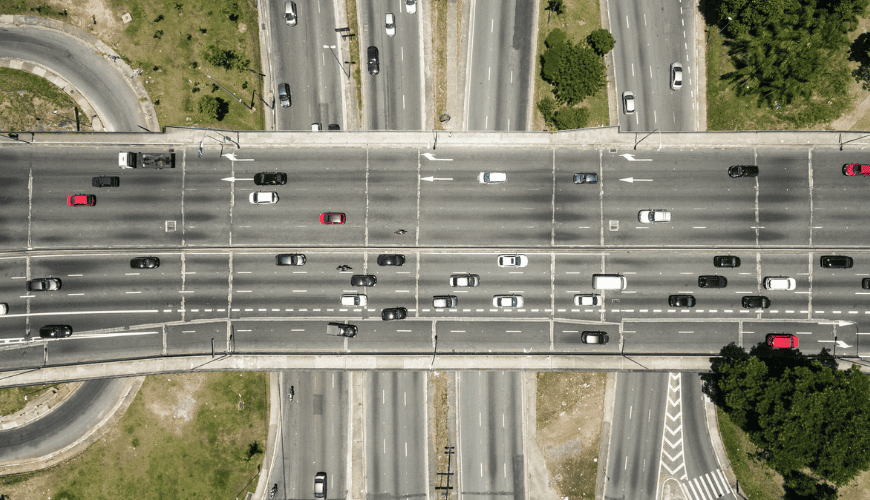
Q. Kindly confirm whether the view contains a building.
No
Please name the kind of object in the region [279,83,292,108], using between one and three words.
vehicle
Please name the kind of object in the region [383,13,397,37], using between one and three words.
vehicle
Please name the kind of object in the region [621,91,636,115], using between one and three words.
car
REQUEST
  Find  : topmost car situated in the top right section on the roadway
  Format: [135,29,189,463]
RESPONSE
[669,63,684,91]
